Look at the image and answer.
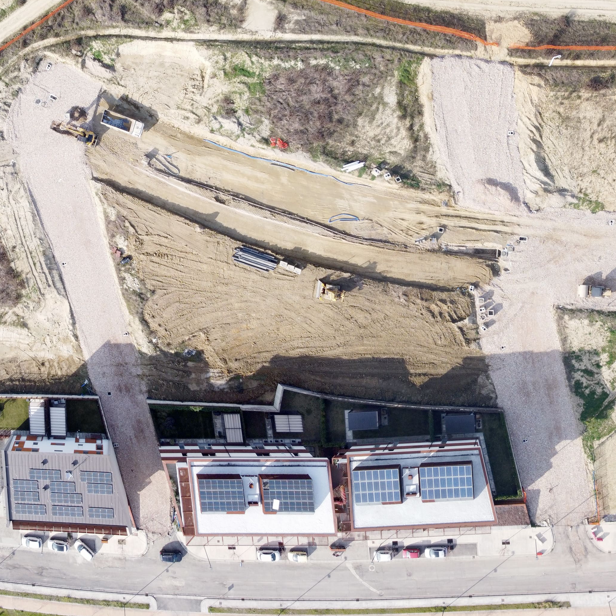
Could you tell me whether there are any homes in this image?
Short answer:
Yes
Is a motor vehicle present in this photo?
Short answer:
Yes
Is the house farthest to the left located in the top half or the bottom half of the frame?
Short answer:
bottom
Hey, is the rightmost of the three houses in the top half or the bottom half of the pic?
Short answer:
bottom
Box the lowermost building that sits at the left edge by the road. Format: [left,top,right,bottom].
[1,426,138,536]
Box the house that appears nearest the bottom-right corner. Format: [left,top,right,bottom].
[332,428,498,541]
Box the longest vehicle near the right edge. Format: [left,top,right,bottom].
[579,286,609,300]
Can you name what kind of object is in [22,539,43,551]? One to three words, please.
vehicle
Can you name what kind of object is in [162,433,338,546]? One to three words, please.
house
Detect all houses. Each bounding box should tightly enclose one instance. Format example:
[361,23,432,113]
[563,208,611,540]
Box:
[162,433,338,546]
[1,426,138,536]
[332,428,498,541]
